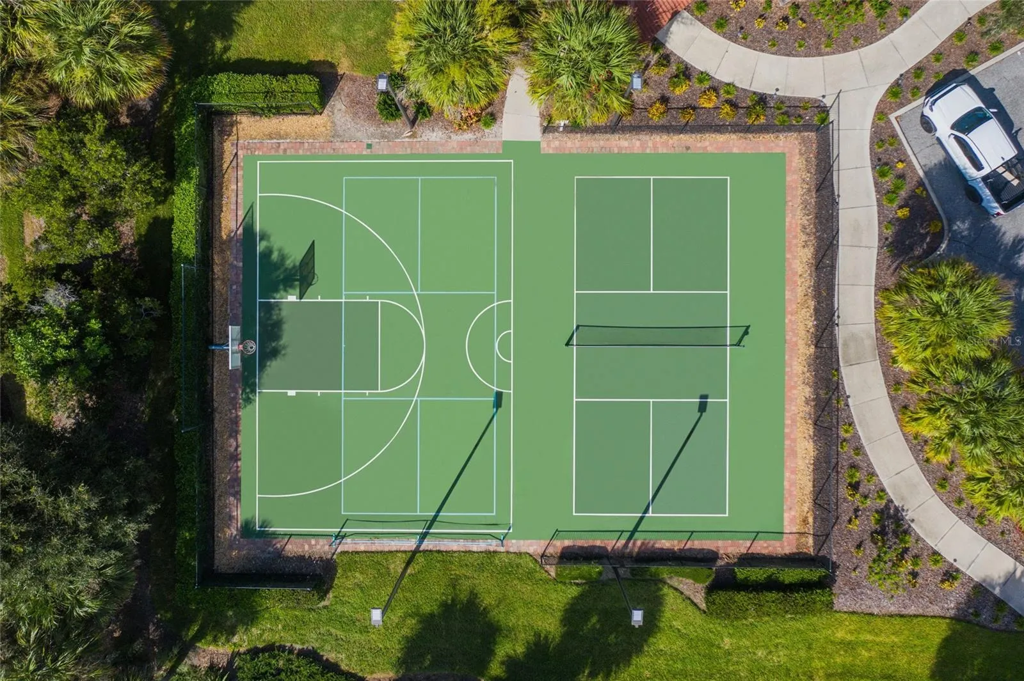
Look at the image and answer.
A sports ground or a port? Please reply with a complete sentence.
It's a sports ground.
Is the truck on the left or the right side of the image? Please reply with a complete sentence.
The truck appears in the right half of the scene.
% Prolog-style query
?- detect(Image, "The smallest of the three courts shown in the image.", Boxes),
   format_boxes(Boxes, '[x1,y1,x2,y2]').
[341,177,497,515]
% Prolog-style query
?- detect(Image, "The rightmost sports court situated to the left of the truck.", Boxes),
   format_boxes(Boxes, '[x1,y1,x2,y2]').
[540,154,786,539]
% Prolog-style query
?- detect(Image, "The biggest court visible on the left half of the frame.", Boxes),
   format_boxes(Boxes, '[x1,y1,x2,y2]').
[241,141,542,539]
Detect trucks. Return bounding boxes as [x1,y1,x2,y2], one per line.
[918,75,1024,221]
